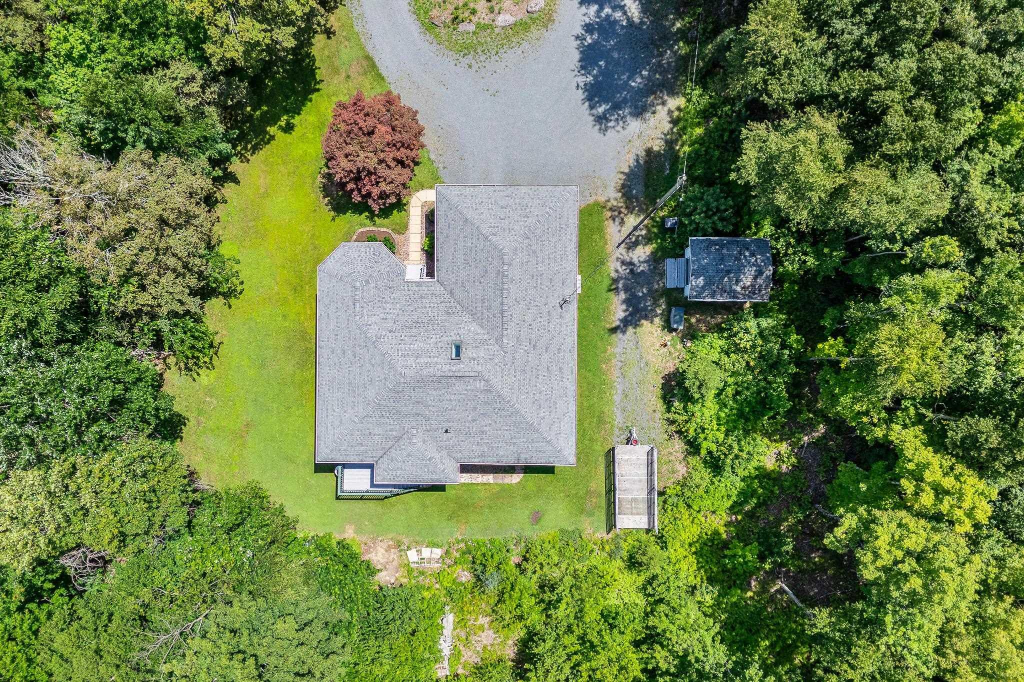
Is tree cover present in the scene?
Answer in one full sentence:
Yes, there is tree cover in the image.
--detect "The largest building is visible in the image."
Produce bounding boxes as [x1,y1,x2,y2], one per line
[314,183,581,486]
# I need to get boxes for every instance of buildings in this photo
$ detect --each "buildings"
[314,183,581,486]
[685,237,775,302]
